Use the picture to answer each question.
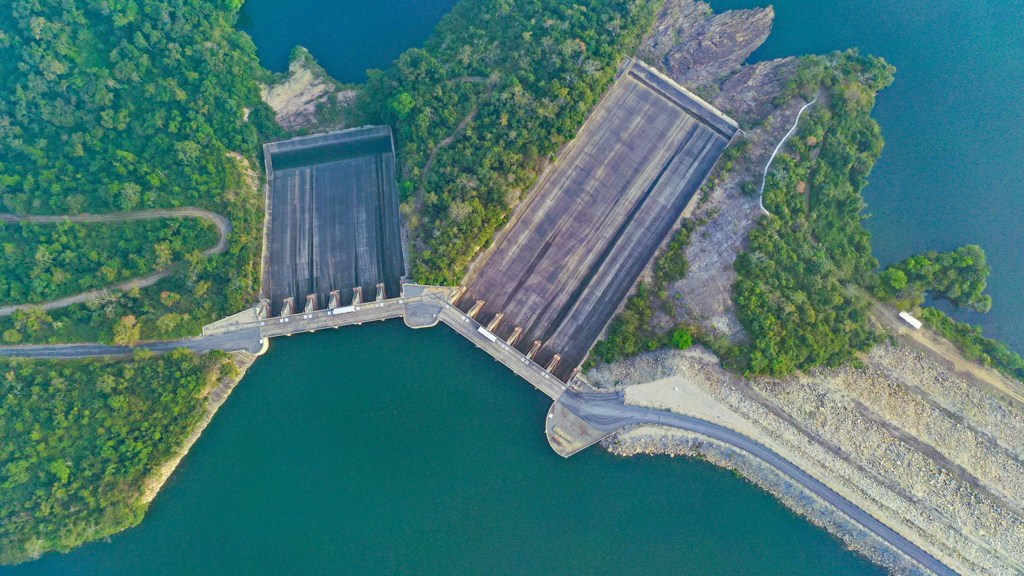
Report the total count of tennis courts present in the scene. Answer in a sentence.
No tennis courts are visible.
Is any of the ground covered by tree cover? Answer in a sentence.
Yes, the picture does contain tree cover.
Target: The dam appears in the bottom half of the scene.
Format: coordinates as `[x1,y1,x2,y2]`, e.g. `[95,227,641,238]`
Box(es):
[590,343,1024,576]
